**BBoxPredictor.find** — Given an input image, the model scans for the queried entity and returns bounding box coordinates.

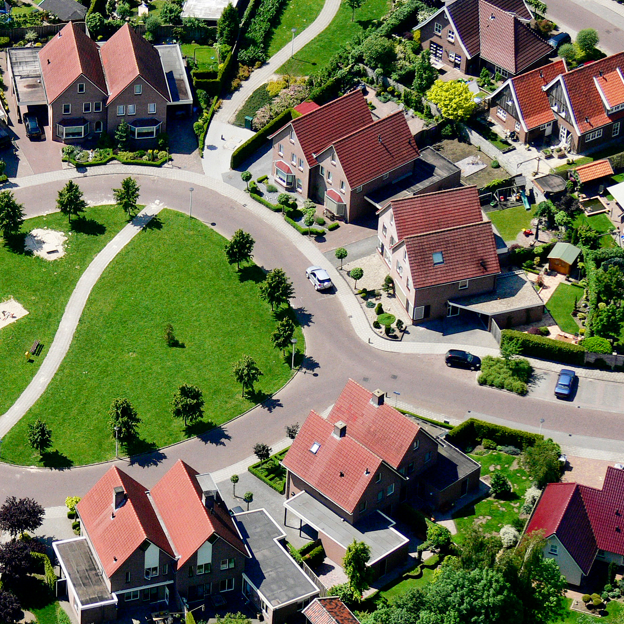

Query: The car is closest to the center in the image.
[303,263,333,289]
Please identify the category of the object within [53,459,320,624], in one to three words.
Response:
house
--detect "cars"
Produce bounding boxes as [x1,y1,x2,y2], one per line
[173,103,187,120]
[546,28,575,50]
[555,369,575,398]
[23,111,41,136]
[0,122,11,147]
[303,263,333,289]
[227,498,258,515]
[445,353,480,372]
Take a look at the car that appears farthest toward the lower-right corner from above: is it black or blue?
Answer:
blue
